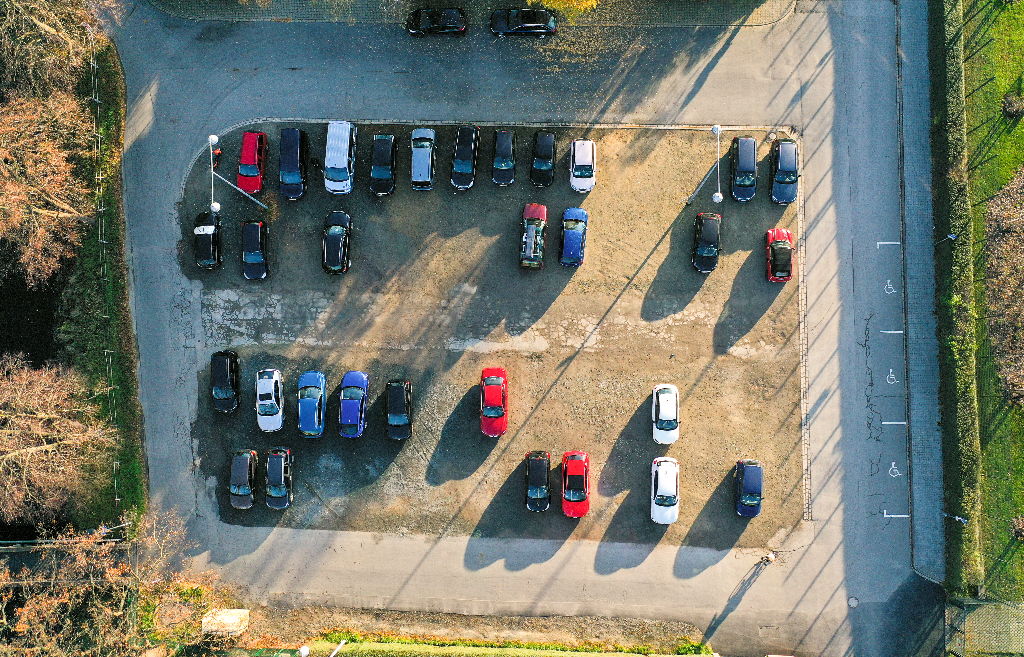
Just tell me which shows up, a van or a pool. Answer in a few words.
van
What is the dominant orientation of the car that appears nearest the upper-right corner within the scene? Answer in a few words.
from top to bottom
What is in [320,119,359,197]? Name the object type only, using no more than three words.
van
